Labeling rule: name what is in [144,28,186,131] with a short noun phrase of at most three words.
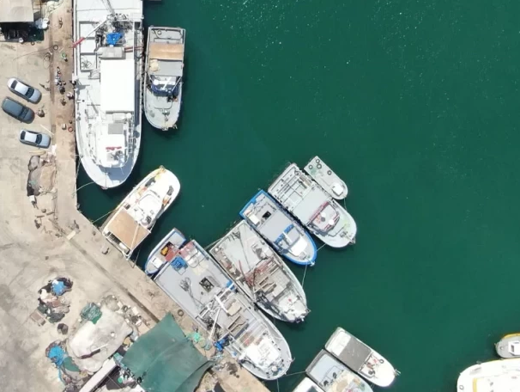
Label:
boat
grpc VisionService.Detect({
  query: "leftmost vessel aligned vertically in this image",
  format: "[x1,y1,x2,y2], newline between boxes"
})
[71,0,145,190]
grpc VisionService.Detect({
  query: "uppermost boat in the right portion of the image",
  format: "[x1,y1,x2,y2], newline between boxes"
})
[302,157,348,203]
